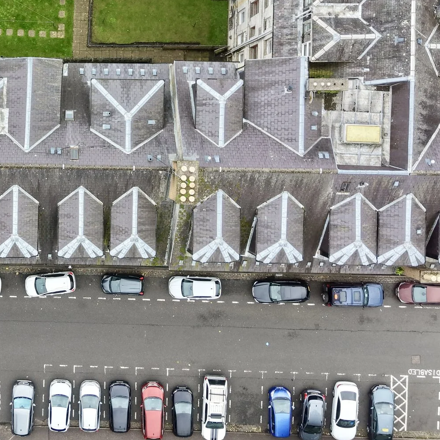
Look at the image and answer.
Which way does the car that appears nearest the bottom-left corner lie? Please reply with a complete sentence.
The car that appears nearest the bottom-left corner has been laid out vertically relative to the frame.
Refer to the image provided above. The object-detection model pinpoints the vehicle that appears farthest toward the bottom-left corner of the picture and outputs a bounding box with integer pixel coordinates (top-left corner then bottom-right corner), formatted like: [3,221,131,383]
[9,377,37,438]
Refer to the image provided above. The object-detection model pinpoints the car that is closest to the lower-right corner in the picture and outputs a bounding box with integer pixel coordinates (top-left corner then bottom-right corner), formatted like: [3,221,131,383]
[366,384,396,440]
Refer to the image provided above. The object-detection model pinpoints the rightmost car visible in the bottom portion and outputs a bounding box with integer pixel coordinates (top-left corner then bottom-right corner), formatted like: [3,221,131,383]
[394,280,440,308]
